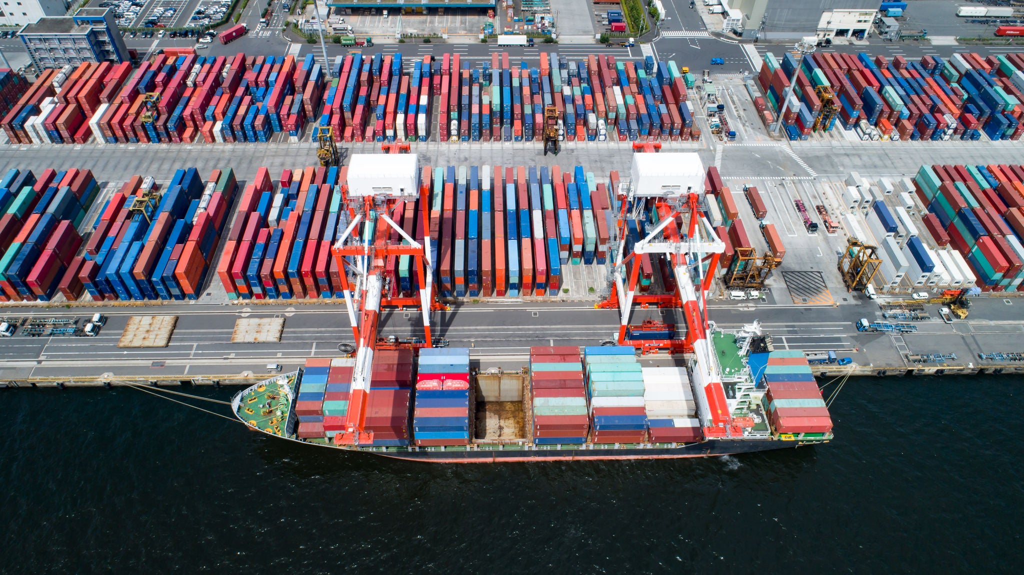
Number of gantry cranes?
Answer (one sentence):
Looking from above, you can make out 2 gantry cranes.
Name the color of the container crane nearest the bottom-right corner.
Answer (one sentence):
The color of the container crane nearest the bottom-right corner is white.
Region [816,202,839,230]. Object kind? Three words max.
truck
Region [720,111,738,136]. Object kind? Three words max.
vehicle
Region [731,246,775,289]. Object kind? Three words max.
work vehicle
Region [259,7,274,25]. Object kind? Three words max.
vehicle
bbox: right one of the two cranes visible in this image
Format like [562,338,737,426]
[596,140,746,449]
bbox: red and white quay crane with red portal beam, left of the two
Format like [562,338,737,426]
[330,141,449,456]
